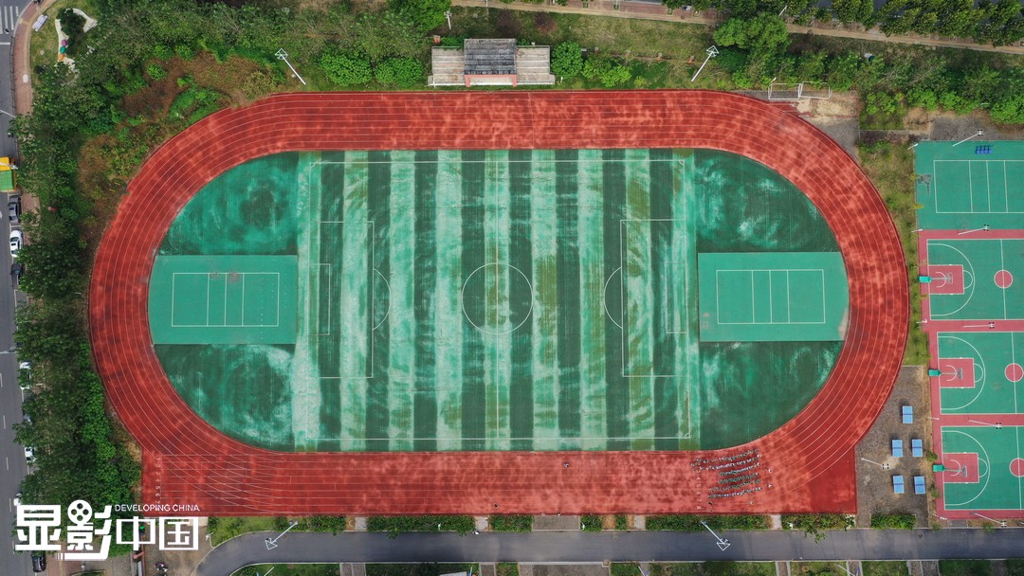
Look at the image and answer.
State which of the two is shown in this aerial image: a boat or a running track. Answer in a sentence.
There is a running track in the scene.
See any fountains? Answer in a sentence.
No, the scene contains no fountain.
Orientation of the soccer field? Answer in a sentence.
In this picture, the soccer field lies from left to right.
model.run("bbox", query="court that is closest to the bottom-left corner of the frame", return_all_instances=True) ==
[149,255,298,344]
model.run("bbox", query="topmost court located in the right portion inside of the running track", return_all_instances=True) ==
[698,252,850,341]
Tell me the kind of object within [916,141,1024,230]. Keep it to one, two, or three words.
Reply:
sports court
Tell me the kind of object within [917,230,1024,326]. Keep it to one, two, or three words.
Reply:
basketball court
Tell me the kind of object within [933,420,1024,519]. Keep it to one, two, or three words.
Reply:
basketball court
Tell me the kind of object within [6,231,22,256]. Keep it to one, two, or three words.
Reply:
car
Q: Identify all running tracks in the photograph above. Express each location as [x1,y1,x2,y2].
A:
[90,93,909,519]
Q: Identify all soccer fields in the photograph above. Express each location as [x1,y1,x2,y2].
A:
[148,150,850,451]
